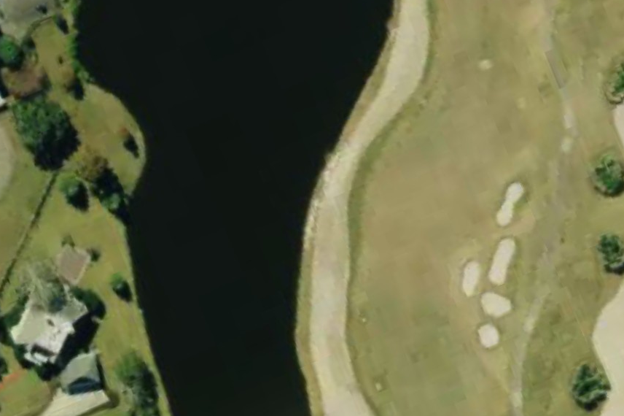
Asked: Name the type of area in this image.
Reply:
golf course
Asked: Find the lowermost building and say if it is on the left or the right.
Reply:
left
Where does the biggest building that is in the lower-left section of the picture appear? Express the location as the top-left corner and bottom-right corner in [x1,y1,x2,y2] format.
[7,286,95,369]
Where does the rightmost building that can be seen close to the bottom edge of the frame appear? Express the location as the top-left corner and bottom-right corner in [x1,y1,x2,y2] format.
[59,352,102,397]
